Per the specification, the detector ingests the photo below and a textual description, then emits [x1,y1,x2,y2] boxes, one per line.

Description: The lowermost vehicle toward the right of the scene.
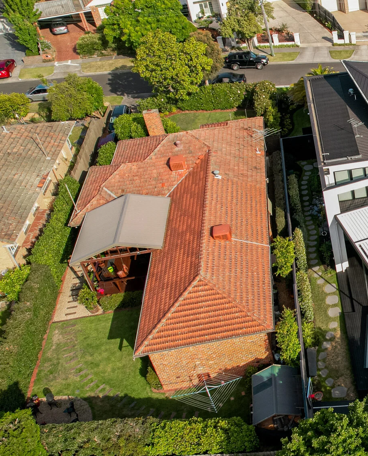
[208,70,250,88]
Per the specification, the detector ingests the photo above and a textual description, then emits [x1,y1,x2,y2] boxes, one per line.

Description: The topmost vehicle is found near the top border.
[50,19,69,35]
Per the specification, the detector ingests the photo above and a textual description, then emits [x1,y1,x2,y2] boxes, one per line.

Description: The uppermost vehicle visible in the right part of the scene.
[226,48,268,69]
